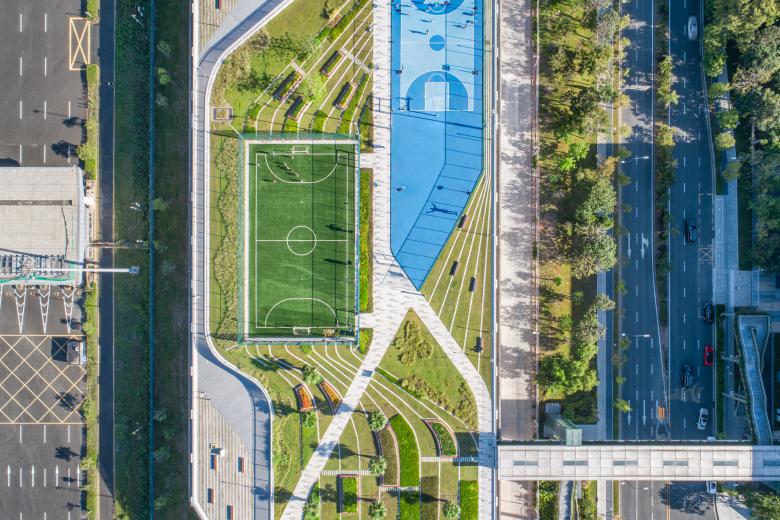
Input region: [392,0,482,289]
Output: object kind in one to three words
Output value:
basketball court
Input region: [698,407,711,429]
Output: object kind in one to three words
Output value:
vehicle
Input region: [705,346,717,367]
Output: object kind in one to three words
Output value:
vehicle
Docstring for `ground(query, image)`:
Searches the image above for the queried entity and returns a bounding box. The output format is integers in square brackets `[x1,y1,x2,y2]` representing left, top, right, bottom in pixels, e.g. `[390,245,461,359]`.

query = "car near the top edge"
[689,16,701,37]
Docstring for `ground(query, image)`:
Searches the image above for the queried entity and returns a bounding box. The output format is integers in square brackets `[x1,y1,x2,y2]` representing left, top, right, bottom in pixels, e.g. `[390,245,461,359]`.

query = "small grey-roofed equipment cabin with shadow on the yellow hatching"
[67,340,84,365]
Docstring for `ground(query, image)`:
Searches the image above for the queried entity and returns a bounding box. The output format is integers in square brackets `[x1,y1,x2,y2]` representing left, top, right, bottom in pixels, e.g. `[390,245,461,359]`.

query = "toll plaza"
[0,160,87,292]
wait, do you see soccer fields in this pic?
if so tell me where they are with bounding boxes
[244,139,358,342]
